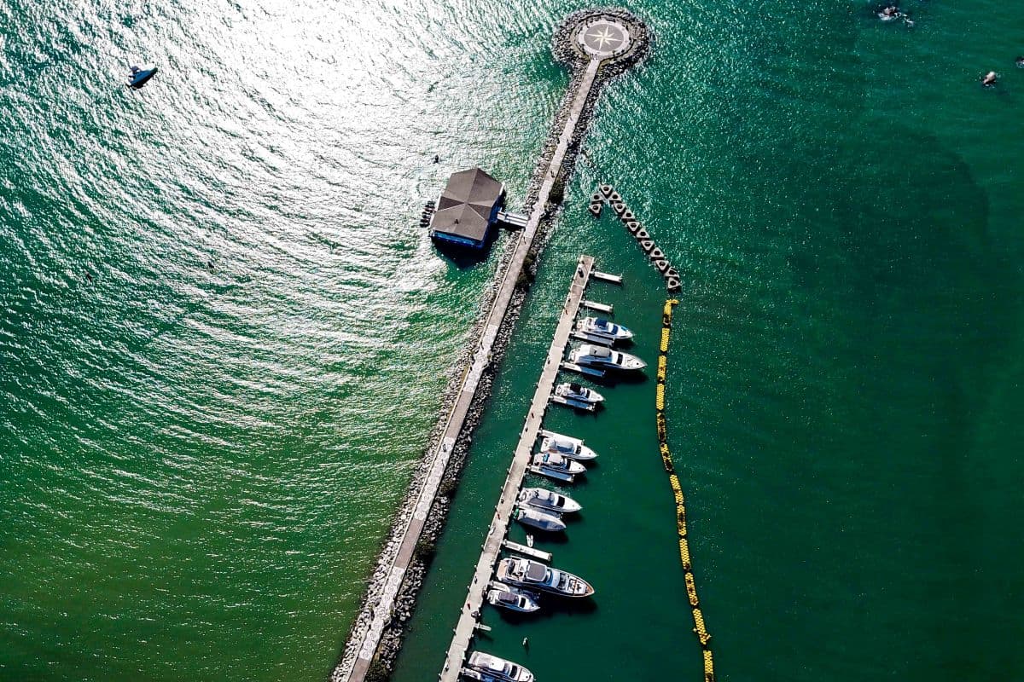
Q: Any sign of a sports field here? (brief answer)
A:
No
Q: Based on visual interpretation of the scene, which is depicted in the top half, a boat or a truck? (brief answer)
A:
boat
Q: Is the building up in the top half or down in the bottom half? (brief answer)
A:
top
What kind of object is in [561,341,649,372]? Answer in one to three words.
boat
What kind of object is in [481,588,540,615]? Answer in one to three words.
boat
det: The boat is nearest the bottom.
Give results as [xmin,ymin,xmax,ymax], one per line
[468,645,536,682]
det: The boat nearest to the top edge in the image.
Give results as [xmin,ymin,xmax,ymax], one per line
[125,68,158,88]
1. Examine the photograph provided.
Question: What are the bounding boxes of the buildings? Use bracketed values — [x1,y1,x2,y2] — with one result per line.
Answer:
[431,168,504,250]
